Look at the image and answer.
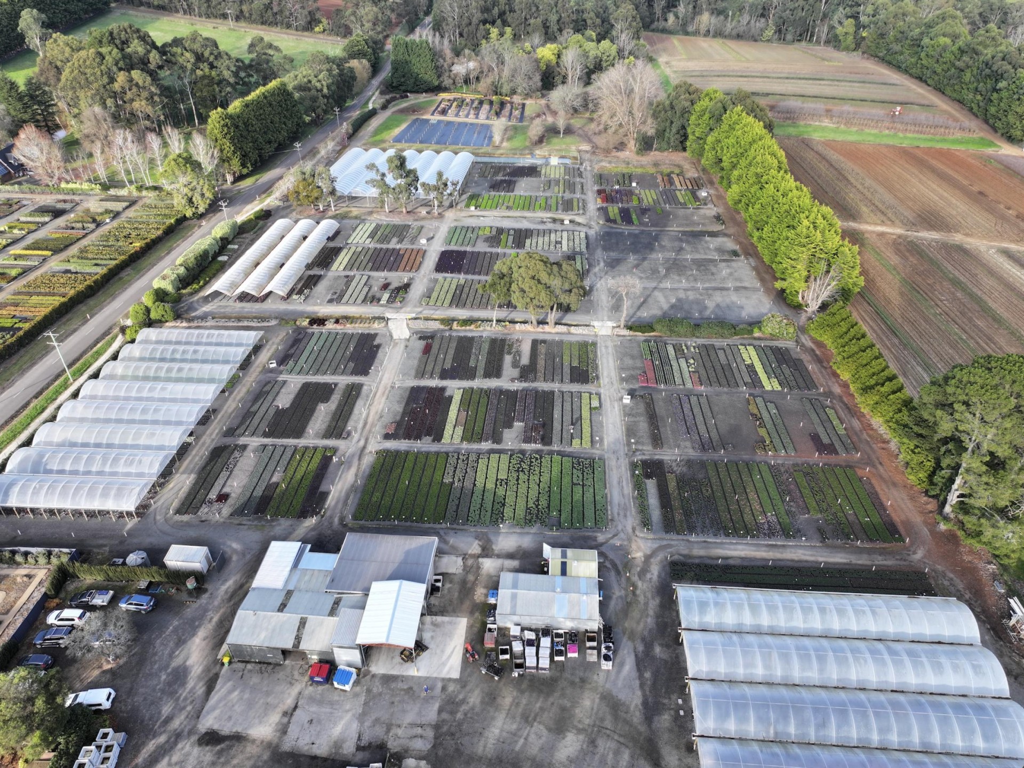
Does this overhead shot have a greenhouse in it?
Yes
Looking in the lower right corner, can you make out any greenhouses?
Yes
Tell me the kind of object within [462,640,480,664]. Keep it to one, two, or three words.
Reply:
work vehicle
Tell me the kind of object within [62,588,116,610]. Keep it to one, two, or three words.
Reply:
truck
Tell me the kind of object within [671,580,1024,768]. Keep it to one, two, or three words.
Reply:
greenhouse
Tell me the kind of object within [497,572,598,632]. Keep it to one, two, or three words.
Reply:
shed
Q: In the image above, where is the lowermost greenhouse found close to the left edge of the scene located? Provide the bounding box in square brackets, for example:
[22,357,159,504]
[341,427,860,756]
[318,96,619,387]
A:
[0,323,266,522]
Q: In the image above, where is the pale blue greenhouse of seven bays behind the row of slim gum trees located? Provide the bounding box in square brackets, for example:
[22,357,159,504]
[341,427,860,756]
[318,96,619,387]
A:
[310,146,475,202]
